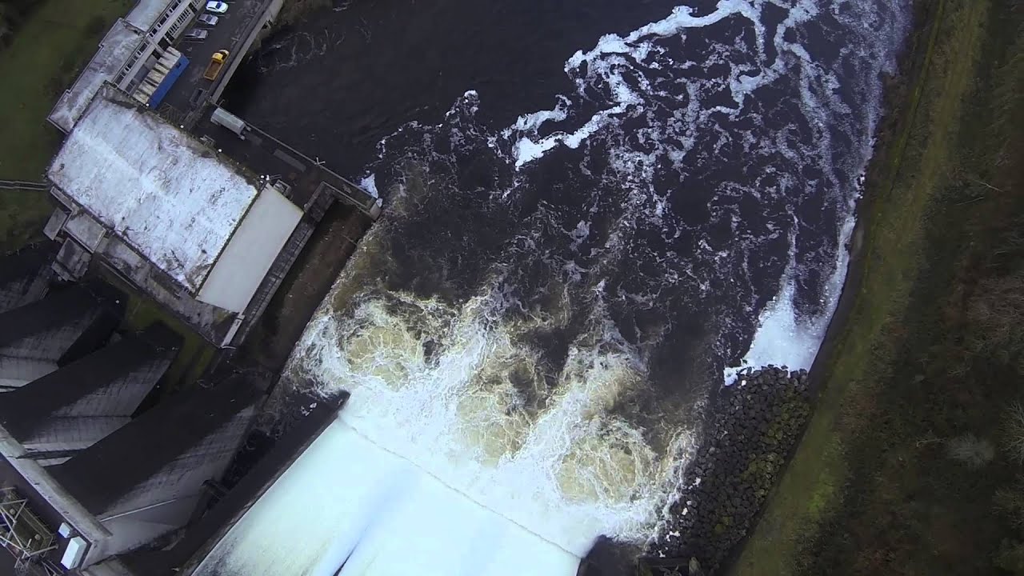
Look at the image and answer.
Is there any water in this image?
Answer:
Yes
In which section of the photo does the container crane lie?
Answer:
bottom left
